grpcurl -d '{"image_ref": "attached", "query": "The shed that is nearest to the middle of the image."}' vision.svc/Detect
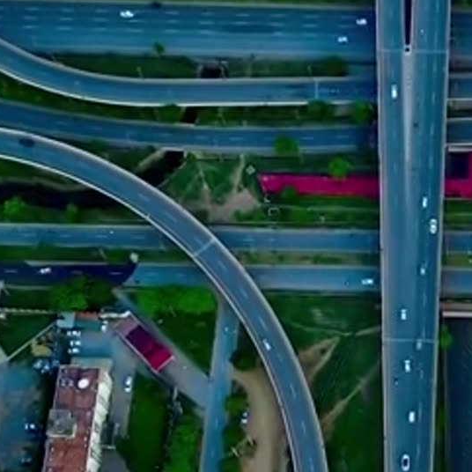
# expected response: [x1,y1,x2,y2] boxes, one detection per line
[125,322,175,372]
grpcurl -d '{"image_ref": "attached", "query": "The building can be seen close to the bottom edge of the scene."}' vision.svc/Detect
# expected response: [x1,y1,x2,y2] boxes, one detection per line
[42,358,113,472]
